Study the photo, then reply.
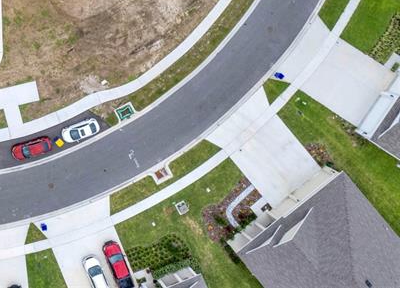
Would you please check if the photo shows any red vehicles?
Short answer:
Yes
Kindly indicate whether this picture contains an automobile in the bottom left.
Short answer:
Yes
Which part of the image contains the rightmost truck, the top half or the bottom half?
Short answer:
bottom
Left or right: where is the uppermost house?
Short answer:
right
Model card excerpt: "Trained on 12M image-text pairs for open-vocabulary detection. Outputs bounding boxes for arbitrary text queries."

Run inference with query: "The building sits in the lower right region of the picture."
[227,164,400,288]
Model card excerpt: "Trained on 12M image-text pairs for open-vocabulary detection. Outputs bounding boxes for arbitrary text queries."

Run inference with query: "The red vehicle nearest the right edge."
[104,240,137,288]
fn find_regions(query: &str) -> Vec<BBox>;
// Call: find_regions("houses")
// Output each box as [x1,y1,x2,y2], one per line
[227,164,400,288]
[359,74,400,164]
[147,264,207,288]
